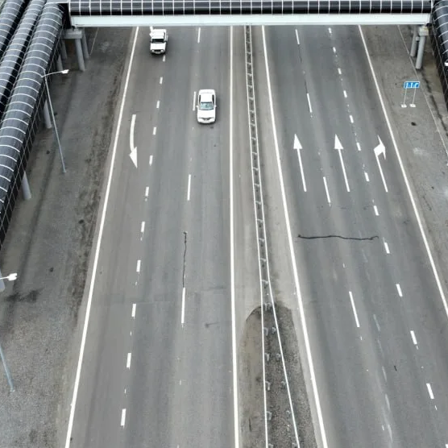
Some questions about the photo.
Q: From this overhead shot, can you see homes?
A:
No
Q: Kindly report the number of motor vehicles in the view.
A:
two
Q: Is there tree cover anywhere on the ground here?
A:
No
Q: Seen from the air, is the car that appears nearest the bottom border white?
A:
Yes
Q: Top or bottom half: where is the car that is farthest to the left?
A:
top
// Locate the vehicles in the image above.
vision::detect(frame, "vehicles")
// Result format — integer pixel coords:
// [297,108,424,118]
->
[195,89,217,123]
[148,28,168,55]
